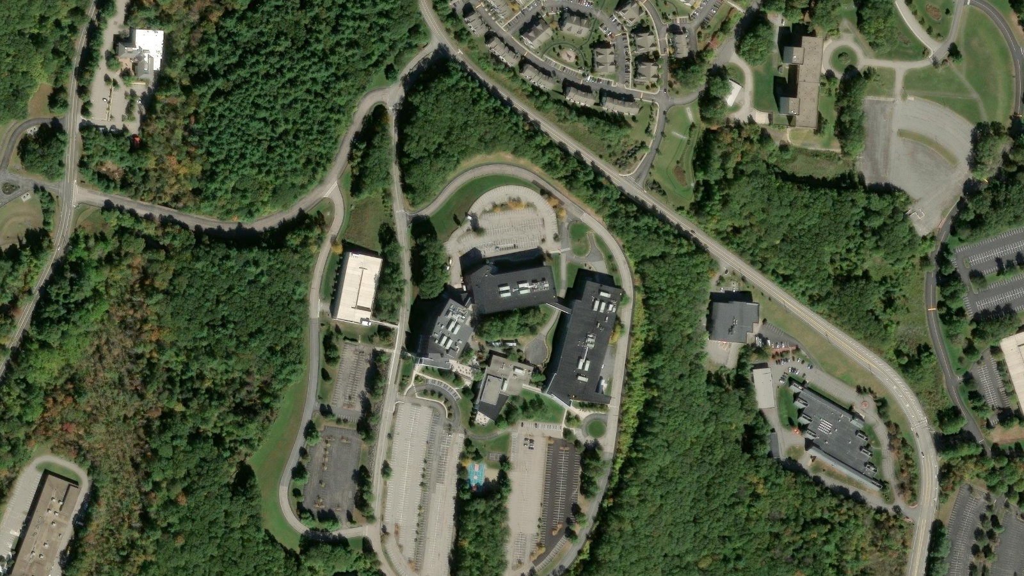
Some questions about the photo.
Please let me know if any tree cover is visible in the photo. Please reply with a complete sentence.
Yes, tree cover can be seen from above here.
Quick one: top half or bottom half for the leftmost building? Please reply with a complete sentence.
It is in the bottom half that the leftmost building appears.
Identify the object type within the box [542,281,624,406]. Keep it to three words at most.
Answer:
building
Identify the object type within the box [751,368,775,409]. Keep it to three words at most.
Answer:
building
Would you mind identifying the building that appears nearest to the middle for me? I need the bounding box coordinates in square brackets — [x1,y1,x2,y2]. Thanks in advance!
[465,265,558,314]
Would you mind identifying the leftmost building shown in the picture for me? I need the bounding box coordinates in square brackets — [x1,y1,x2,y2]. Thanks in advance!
[10,475,79,576]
